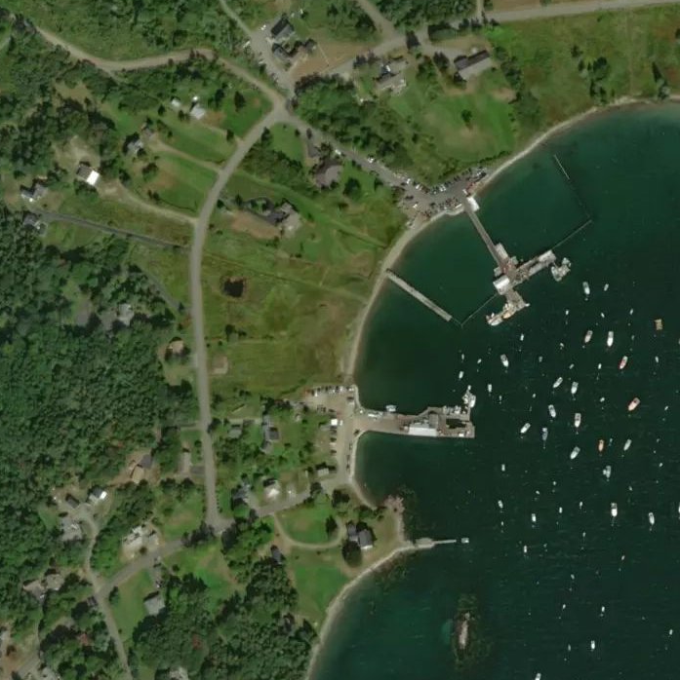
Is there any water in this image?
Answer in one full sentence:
Yes, the picture does contain water.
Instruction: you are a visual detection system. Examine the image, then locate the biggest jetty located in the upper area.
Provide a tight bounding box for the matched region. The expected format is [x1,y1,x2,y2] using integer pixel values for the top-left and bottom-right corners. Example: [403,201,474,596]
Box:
[465,201,557,310]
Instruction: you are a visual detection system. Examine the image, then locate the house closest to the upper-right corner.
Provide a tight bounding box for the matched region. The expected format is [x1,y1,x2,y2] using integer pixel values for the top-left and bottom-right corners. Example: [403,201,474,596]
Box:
[454,50,493,78]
